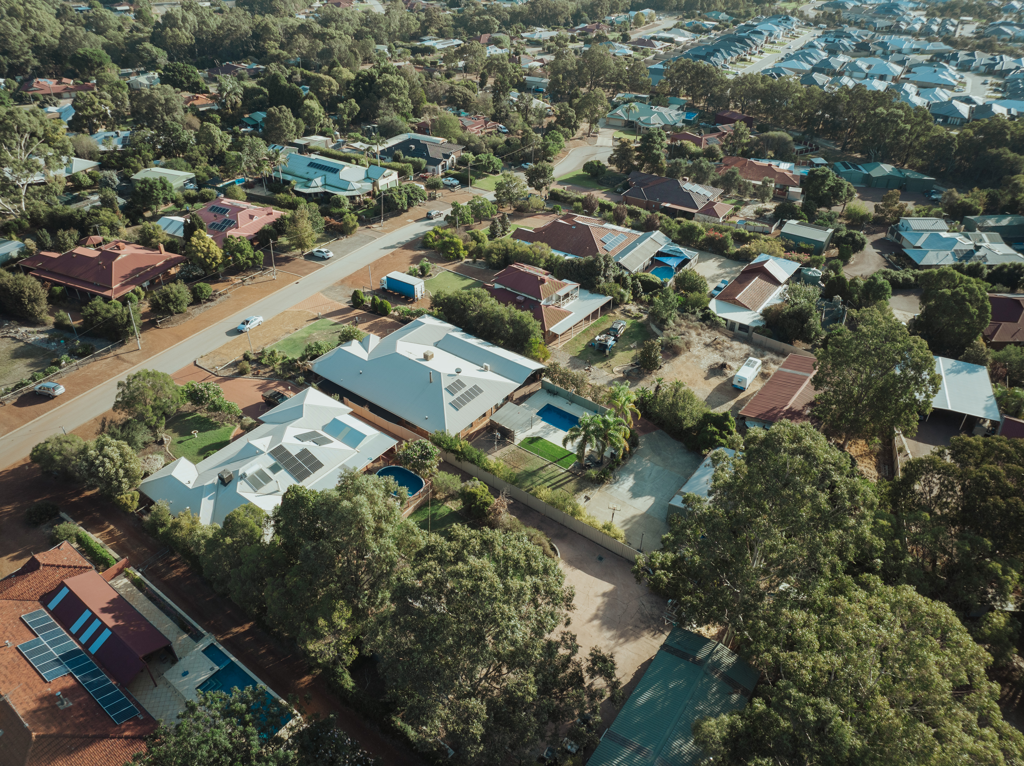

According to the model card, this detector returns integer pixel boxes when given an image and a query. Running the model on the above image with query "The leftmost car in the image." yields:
[29,379,65,397]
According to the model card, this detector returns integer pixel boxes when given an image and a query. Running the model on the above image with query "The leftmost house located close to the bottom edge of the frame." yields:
[0,540,179,764]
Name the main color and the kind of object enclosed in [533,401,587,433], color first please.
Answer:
blue swimming pool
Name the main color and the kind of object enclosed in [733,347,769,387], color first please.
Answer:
white bus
